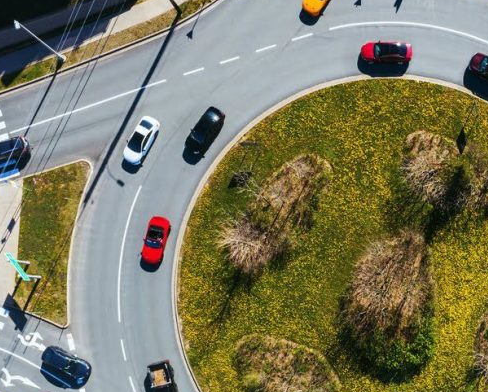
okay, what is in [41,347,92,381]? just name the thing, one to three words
car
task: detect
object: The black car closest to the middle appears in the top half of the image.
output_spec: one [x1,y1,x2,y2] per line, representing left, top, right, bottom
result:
[188,107,225,153]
